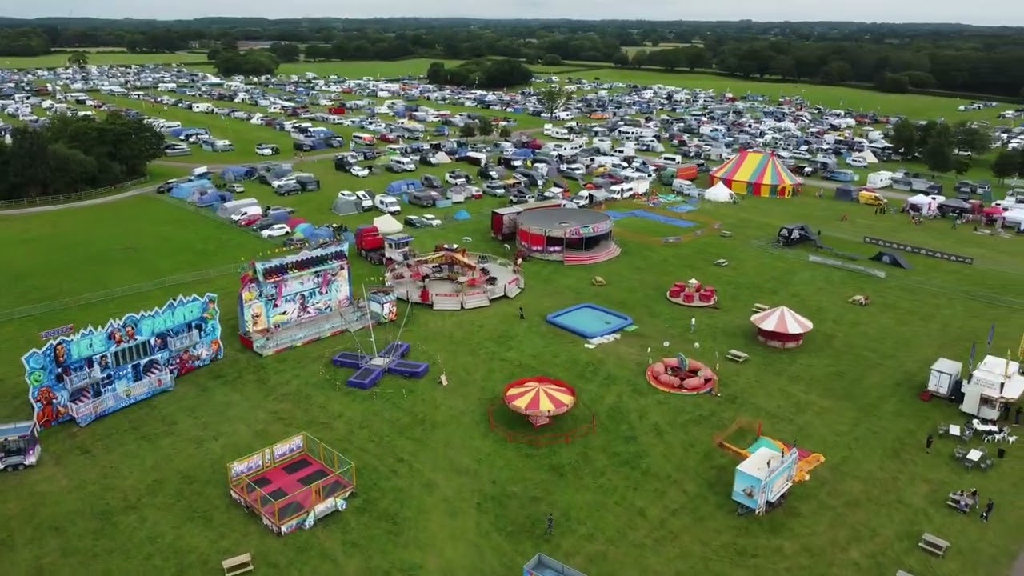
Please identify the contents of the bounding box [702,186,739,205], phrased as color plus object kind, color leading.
white tent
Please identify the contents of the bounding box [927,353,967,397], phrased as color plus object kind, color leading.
white trailer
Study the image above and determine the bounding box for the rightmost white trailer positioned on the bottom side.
[961,362,1024,416]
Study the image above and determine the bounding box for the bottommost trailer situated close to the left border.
[0,416,37,471]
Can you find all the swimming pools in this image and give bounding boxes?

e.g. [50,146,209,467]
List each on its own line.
[545,298,636,338]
